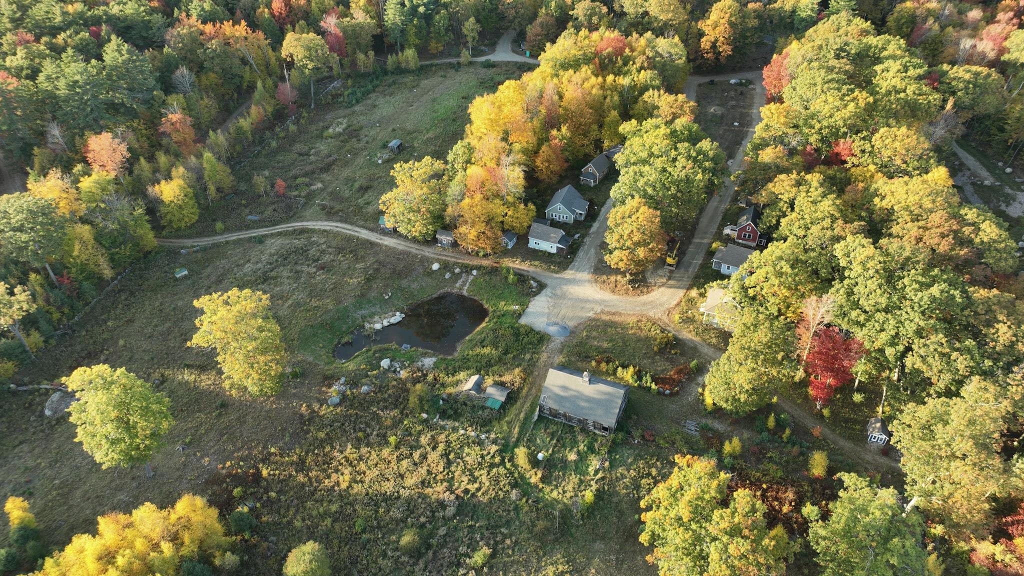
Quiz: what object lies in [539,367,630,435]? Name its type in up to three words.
barn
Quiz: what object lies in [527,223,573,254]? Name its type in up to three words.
house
